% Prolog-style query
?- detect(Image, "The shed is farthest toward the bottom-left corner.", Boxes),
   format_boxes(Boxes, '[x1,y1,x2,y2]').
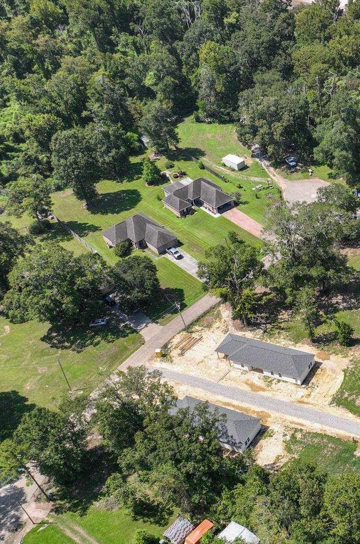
[164,519,194,544]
